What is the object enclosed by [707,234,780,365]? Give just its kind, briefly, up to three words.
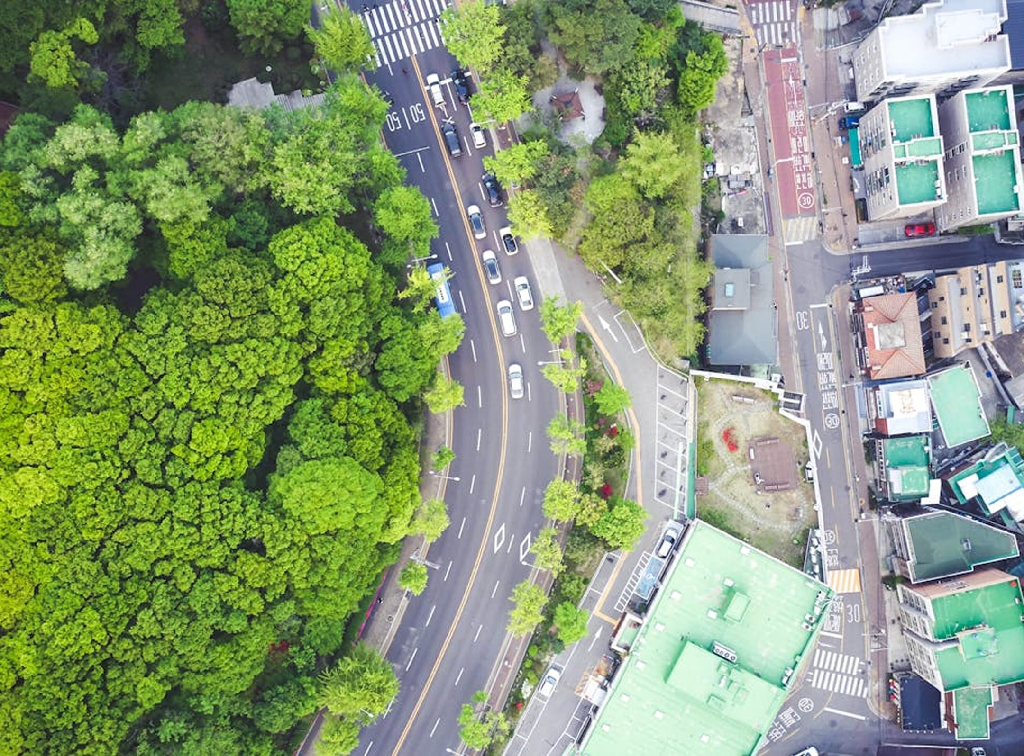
building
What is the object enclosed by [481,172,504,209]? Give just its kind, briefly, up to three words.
car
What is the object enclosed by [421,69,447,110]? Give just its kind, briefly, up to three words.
truck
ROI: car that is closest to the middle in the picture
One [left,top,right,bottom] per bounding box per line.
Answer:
[507,362,525,399]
